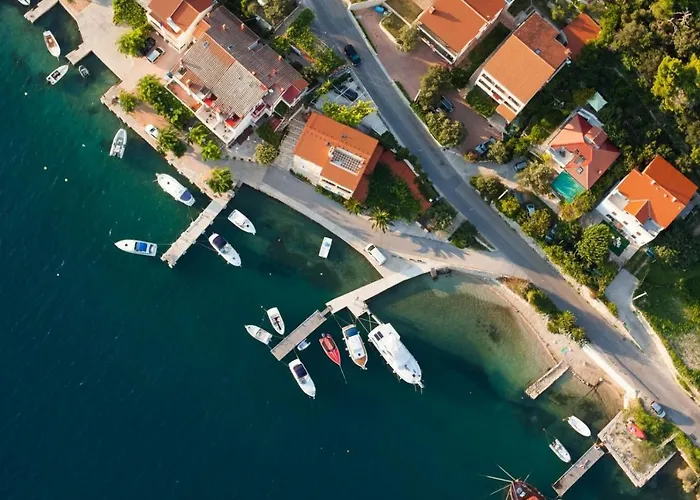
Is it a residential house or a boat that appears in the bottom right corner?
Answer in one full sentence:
The one visible in the bottom right corner is a boat.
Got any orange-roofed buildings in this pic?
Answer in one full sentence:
Yes, an orange-roofed building is visible in the scene.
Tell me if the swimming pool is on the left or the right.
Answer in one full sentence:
You can find the swimming pool on the right side of the picture.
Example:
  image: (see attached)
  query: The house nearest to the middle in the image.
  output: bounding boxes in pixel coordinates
[292,112,383,202]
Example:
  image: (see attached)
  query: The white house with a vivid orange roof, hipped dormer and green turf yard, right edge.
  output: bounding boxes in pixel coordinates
[595,146,698,236]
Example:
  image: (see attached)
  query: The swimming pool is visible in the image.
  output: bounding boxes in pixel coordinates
[550,170,584,205]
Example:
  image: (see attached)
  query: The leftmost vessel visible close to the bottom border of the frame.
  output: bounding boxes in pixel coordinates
[487,464,538,500]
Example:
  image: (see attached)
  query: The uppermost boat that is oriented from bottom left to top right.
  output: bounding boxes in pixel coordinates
[44,64,71,85]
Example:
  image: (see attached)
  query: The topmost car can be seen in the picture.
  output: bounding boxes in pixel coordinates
[370,3,389,16]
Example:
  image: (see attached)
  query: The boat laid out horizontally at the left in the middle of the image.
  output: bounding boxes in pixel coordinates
[111,239,160,256]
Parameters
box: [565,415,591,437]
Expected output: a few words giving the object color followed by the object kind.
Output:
white boat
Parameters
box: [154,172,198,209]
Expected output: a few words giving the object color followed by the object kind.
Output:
white boat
